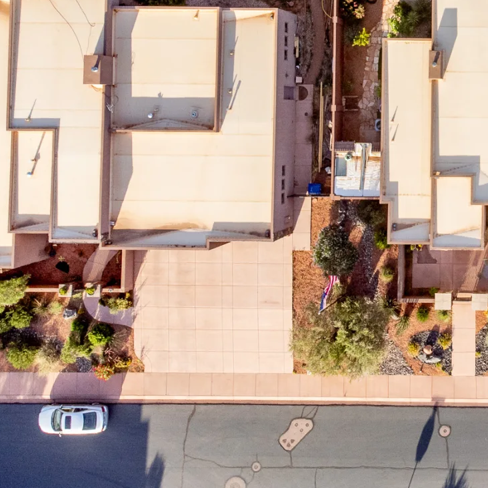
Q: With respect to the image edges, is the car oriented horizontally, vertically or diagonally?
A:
horizontally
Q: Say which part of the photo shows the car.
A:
bottom left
